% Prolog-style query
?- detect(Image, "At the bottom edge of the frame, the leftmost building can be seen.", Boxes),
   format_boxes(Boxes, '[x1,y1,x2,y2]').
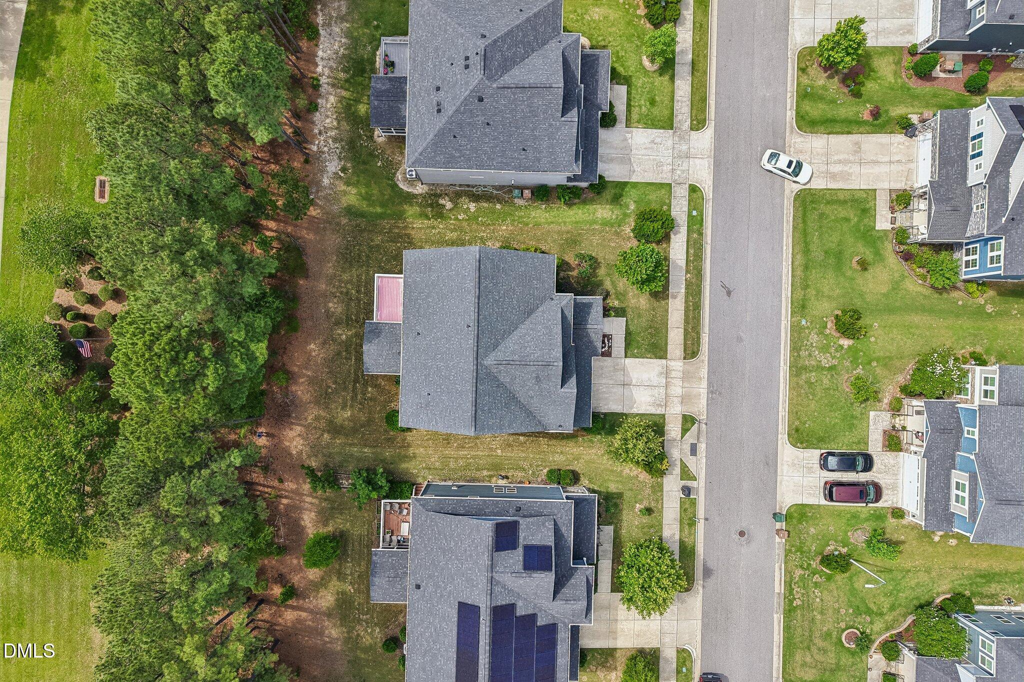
[370,483,598,682]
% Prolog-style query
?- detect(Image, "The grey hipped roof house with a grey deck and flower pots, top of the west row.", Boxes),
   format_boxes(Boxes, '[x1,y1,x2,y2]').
[369,0,611,187]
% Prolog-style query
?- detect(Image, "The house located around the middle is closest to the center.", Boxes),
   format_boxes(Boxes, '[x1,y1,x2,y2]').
[363,246,603,435]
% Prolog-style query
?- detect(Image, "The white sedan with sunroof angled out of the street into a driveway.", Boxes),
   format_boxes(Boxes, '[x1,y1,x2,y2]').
[758,147,814,187]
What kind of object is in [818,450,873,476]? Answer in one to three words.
car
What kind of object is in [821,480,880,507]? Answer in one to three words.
car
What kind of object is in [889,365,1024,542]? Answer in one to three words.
house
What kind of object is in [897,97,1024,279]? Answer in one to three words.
house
